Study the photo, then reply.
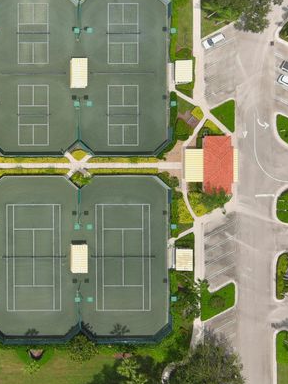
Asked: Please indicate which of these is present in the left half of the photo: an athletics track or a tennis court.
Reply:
tennis court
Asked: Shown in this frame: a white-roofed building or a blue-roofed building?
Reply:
white-roofed building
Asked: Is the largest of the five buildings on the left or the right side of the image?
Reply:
right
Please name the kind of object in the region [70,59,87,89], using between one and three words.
building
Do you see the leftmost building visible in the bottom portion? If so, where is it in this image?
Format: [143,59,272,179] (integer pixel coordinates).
[70,244,87,273]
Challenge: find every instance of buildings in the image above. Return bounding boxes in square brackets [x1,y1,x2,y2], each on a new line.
[172,60,192,85]
[172,248,192,271]
[70,59,87,89]
[70,244,87,273]
[181,135,238,197]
